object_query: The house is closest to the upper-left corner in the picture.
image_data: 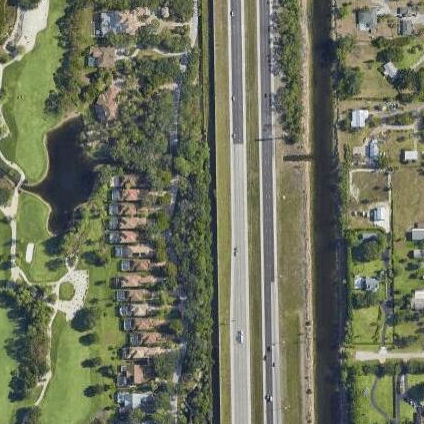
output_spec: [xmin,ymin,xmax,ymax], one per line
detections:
[90,47,114,67]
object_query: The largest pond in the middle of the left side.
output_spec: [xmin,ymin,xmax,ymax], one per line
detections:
[26,115,95,235]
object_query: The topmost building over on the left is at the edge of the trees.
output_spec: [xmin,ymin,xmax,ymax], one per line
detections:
[123,10,148,33]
